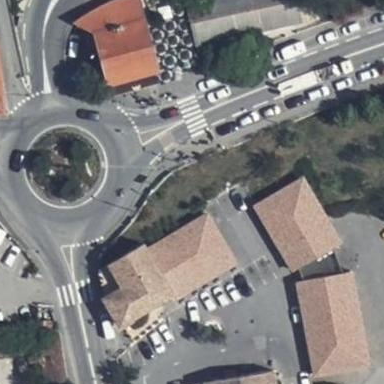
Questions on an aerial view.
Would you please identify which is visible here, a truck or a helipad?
truck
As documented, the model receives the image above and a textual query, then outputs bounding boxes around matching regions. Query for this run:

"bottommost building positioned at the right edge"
[296,272,370,378]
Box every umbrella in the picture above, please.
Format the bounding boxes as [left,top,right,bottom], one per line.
[164,20,176,32]
[179,49,191,60]
[156,42,168,54]
[178,20,188,30]
[175,8,186,18]
[152,28,164,40]
[167,34,179,46]
[182,34,194,45]
[164,54,176,66]
[160,70,172,82]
